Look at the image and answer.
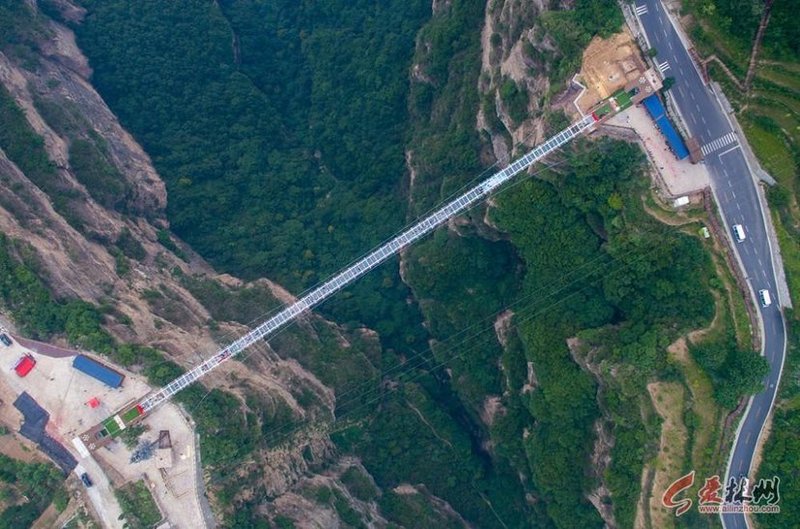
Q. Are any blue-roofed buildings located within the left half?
Yes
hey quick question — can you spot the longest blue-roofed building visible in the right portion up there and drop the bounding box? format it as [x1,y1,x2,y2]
[652,115,689,161]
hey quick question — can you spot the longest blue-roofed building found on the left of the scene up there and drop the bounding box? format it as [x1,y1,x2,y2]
[73,354,128,388]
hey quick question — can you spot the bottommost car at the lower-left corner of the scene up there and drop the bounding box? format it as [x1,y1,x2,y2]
[81,470,94,488]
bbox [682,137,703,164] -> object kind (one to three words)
building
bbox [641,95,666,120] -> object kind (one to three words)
building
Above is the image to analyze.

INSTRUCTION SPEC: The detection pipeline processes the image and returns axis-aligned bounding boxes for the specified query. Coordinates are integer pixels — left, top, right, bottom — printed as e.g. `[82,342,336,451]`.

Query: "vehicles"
[0,333,15,346]
[737,477,748,498]
[81,470,94,488]
[732,223,744,242]
[759,288,770,307]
